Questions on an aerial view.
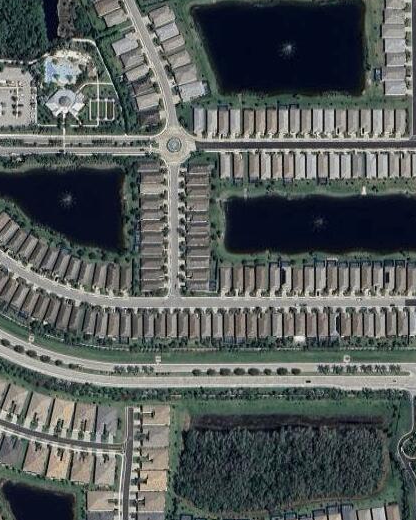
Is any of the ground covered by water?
Yes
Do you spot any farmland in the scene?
No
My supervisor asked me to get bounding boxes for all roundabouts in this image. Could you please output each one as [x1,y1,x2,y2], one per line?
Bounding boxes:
[152,124,196,168]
